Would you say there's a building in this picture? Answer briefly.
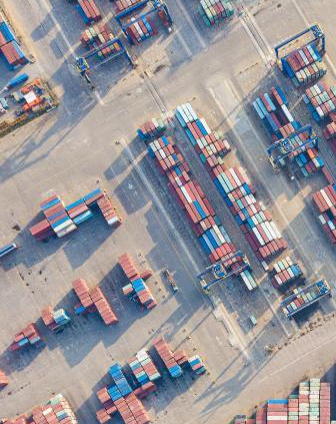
No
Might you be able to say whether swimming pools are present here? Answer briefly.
No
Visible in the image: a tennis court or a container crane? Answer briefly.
container crane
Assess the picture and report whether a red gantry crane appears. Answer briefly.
No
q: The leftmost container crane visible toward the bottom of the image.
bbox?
[201,256,250,295]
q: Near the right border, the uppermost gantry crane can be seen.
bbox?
[277,25,323,76]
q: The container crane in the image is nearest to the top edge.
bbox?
[115,0,168,47]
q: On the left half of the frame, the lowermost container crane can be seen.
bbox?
[81,38,137,87]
